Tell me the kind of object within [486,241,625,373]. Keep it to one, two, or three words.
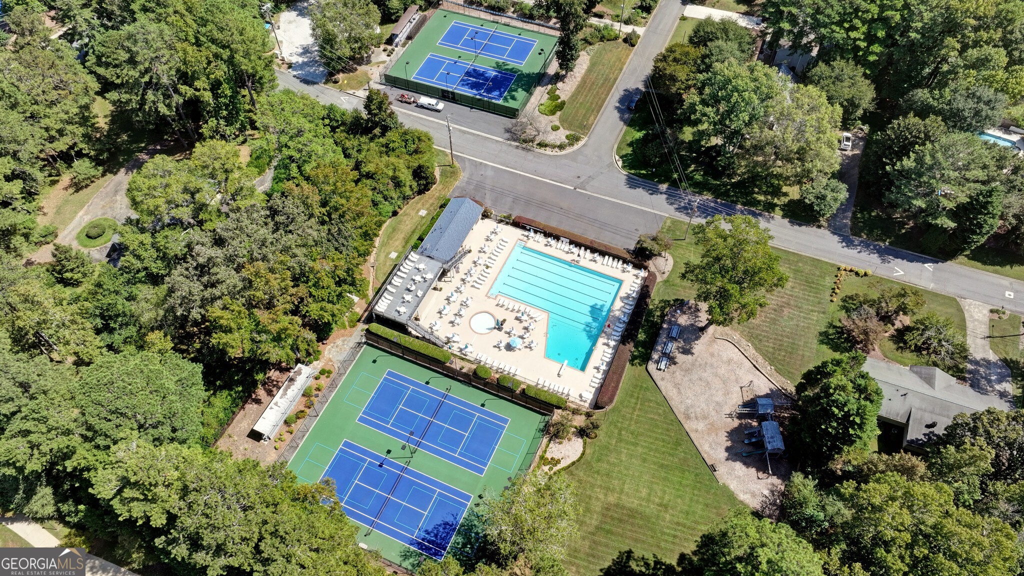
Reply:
swimming pool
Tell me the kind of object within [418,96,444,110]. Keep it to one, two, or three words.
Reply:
vehicle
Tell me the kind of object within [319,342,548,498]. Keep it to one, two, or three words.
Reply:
tennis court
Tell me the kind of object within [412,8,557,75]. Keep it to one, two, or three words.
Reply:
tennis court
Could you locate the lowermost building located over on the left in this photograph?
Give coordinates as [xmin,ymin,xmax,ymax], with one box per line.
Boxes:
[253,363,316,443]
